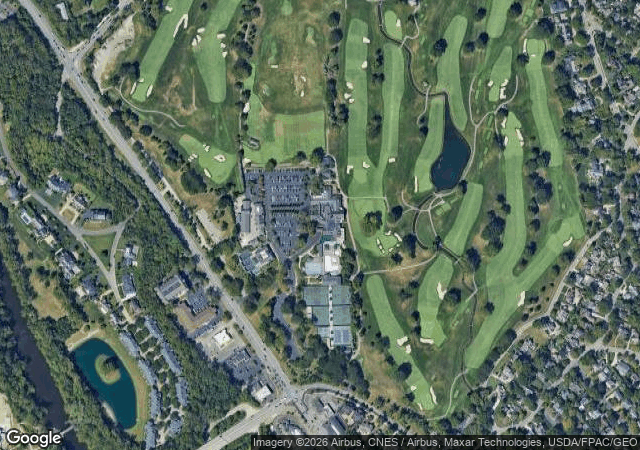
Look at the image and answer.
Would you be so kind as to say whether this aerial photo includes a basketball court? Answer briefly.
No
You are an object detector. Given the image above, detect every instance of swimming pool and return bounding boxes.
[304,261,324,276]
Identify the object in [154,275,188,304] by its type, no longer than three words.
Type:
building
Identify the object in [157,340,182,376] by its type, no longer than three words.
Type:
building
